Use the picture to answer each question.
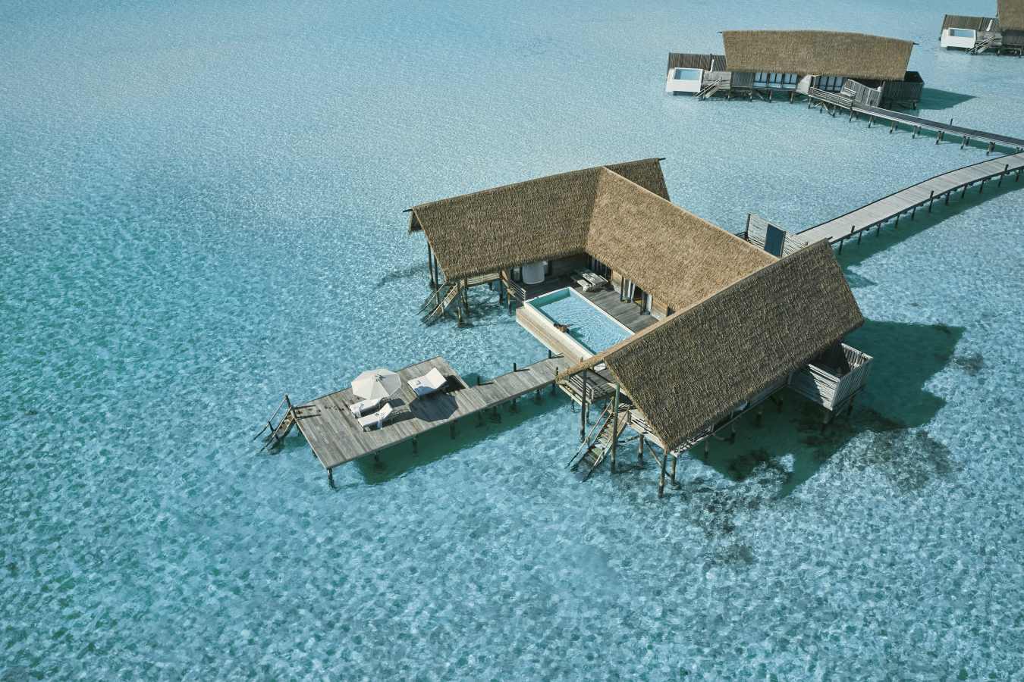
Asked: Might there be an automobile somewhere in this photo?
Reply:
No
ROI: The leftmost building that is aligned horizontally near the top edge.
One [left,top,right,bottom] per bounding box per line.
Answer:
[674,30,923,121]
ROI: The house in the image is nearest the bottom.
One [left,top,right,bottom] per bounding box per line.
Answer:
[404,157,875,501]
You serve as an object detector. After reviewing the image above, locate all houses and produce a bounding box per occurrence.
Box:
[404,157,875,501]
[944,0,1024,58]
[674,30,923,121]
